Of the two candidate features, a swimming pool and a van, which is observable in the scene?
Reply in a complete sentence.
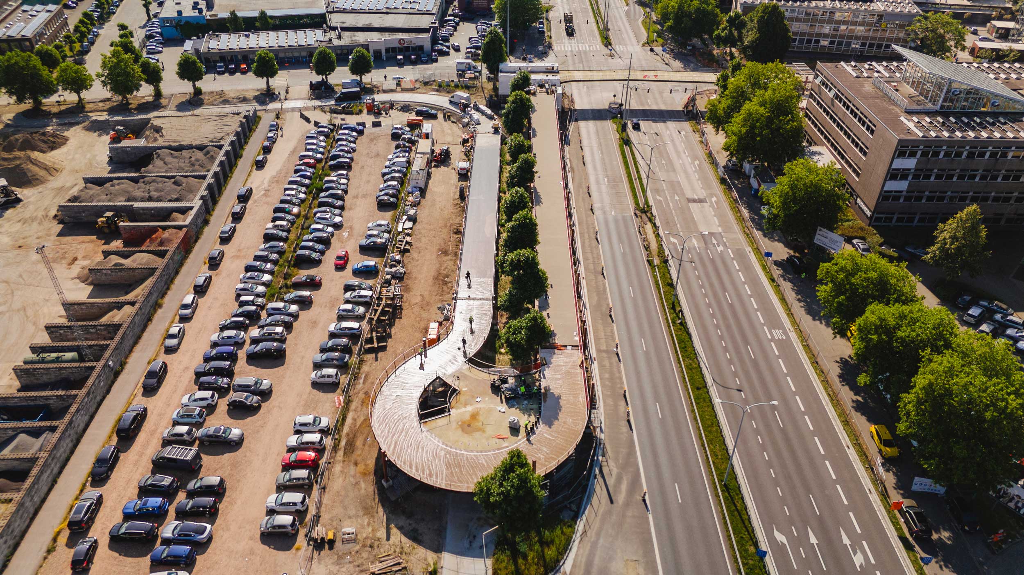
This aerial view contains a van.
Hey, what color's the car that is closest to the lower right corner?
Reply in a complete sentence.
The color of the car that is closest to the lower right corner is black.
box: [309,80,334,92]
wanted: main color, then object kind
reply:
black vehicle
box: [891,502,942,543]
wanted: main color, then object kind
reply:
black car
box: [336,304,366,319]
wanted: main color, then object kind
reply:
gray car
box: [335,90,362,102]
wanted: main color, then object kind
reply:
black vehicle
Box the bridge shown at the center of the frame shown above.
[368,65,726,496]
